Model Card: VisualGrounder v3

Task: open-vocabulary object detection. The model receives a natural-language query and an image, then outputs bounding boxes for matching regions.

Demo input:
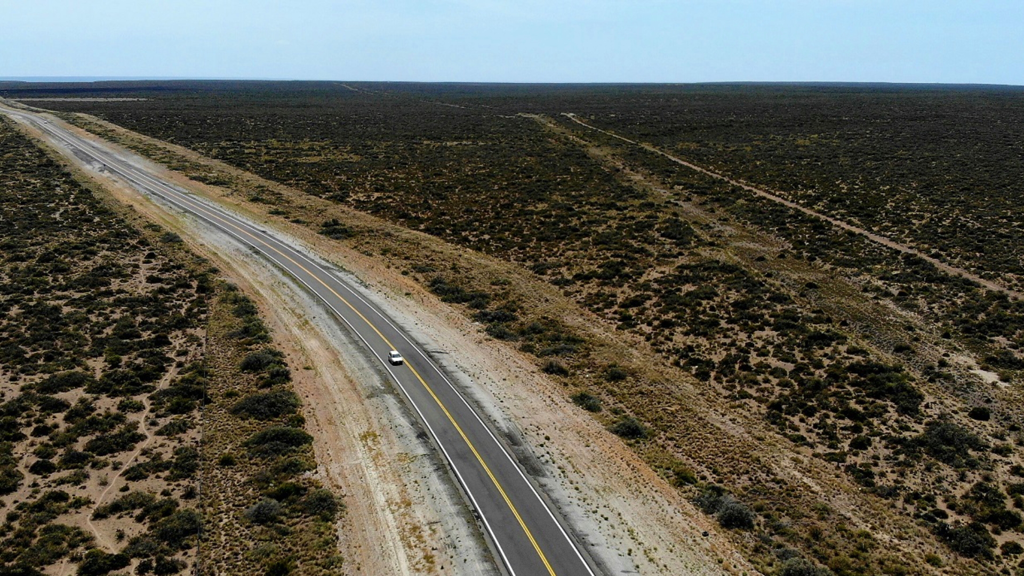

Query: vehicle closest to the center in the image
[389,350,403,365]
